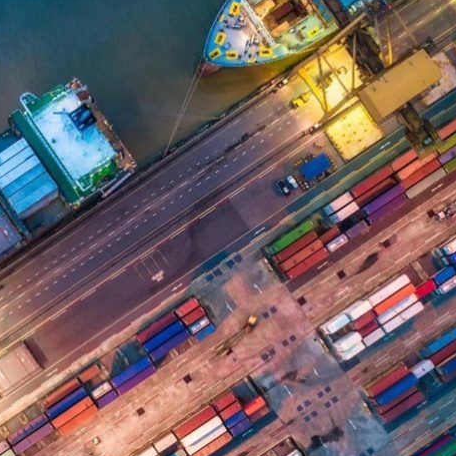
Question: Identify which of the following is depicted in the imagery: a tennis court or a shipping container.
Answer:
shipping container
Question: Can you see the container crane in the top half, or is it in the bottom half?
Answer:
top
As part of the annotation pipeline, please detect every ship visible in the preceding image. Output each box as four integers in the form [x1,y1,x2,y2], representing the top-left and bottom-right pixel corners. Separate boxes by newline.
[199,0,381,73]
[0,78,134,261]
